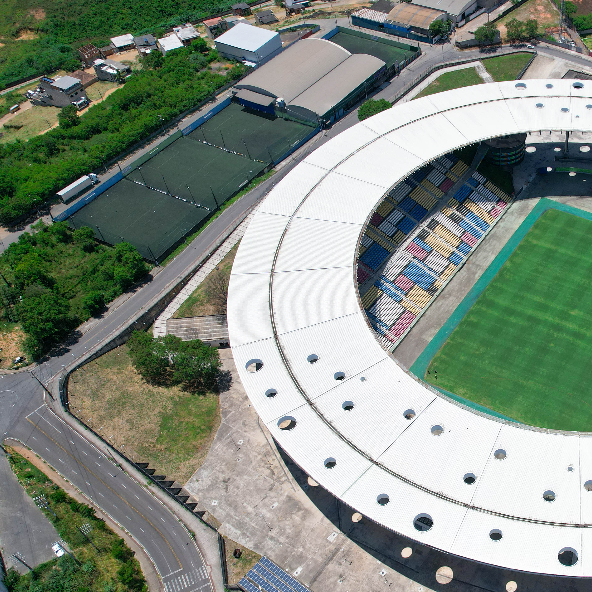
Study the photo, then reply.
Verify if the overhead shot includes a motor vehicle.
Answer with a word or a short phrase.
Yes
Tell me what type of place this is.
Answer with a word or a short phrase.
sports ground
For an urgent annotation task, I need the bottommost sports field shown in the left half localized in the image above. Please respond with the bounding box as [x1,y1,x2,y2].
[60,177,212,261]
